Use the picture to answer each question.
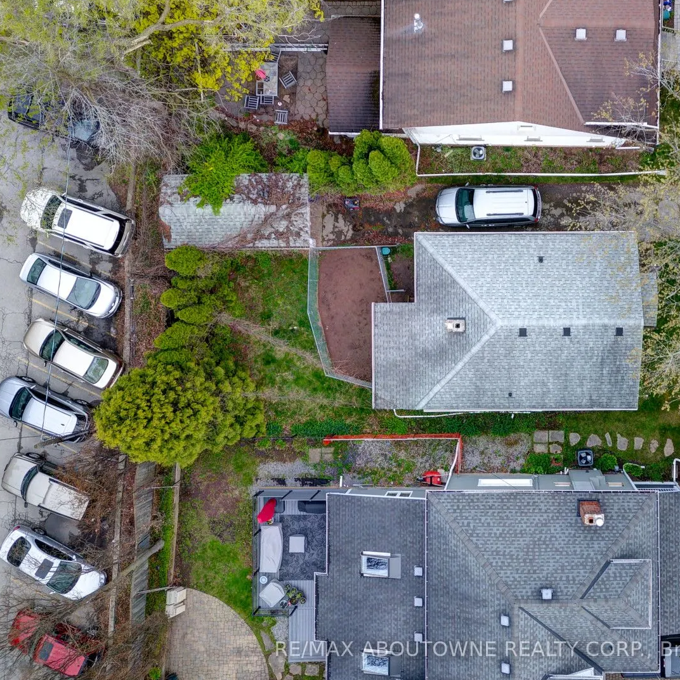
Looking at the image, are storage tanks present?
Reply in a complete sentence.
No, no storage tank is visible in the scene.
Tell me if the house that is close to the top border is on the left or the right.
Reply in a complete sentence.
You can find the house that is close to the top border on the right side of the picture.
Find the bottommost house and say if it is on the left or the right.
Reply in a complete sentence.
The bottommost house sits on the right side.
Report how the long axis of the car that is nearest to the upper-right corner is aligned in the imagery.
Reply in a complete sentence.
The car that is nearest to the upper-right corner has been laid out from left to right relative to the frame.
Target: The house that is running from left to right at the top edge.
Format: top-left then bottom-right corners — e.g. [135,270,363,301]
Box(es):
[326,0,662,147]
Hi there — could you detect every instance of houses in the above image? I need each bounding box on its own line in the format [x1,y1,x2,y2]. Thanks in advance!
[326,0,662,147]
[311,459,680,680]
[370,228,657,418]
